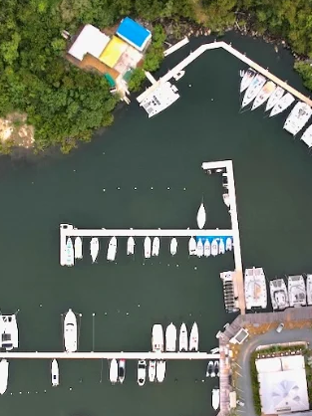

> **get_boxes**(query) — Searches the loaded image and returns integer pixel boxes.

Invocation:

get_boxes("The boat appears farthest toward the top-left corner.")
[116,75,131,104]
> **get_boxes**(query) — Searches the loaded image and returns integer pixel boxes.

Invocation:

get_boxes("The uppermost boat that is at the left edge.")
[0,315,19,349]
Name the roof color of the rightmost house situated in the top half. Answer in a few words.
blue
